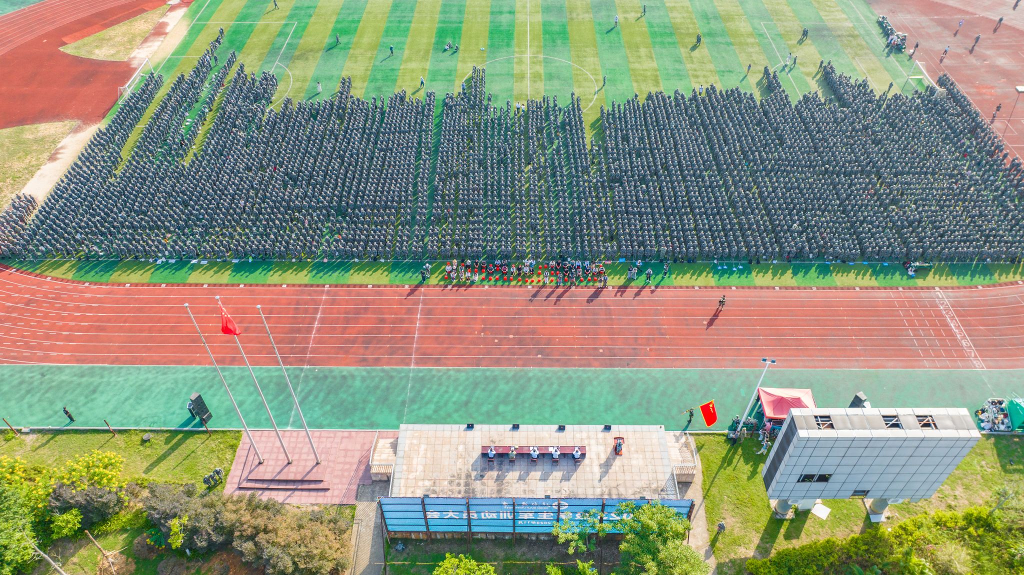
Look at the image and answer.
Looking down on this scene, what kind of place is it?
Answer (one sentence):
This image shows a sports ground.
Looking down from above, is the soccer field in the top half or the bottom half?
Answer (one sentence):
It is in the top half that the soccer field appears.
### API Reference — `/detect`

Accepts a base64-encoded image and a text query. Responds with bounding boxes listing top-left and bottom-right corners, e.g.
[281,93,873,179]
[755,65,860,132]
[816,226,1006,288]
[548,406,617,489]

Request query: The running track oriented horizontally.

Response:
[0,0,1024,370]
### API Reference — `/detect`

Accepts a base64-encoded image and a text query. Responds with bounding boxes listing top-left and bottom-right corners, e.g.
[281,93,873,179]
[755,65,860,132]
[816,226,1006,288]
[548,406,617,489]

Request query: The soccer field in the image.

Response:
[0,0,1024,285]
